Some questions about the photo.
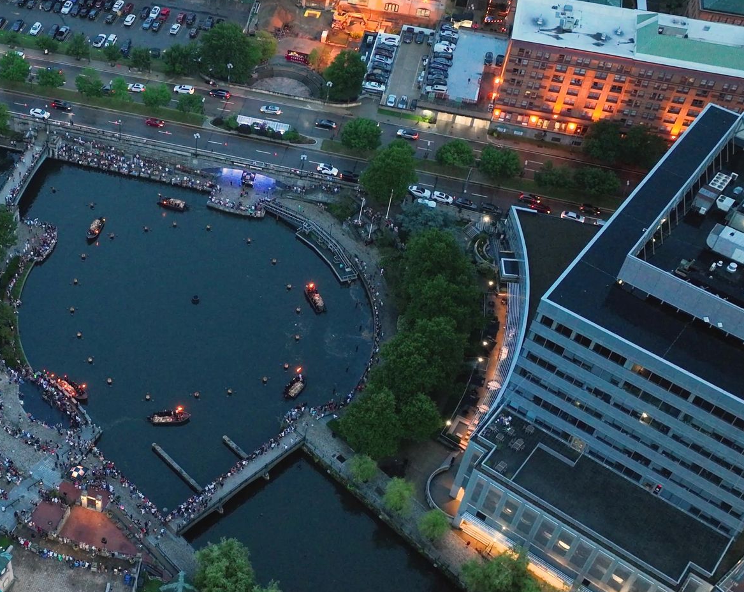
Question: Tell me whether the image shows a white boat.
No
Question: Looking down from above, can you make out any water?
Yes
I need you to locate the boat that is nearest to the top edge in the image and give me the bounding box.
[158,191,190,210]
